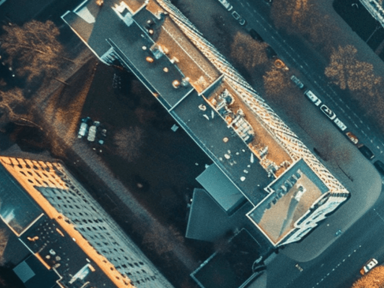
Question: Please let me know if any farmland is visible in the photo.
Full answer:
No, there is no farmland in the image.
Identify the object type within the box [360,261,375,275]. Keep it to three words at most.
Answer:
vehicle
